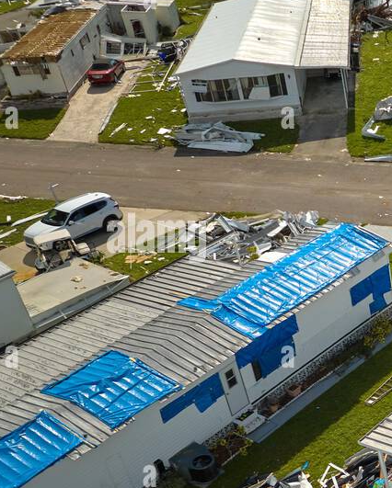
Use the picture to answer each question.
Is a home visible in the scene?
Yes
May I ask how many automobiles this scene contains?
2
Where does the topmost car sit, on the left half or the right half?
left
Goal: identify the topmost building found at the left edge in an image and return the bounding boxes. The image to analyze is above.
[0,0,155,103]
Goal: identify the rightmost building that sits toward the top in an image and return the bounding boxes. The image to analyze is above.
[174,0,352,119]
